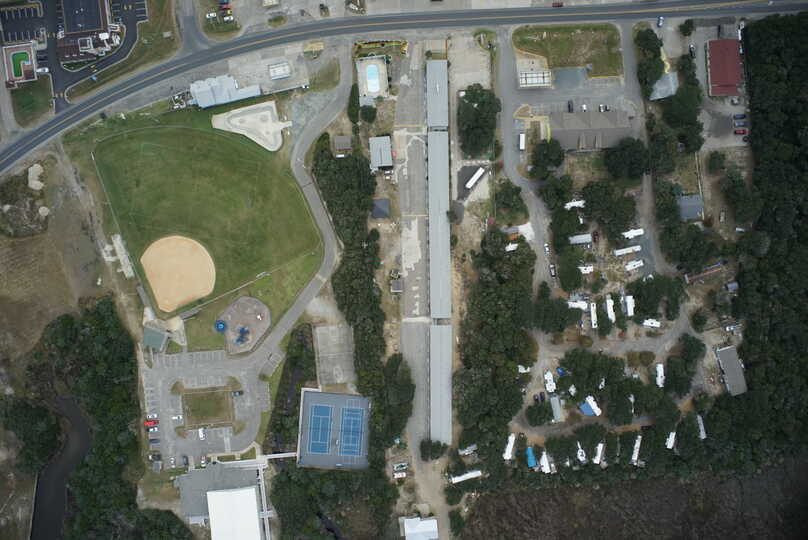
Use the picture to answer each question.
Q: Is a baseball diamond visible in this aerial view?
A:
Yes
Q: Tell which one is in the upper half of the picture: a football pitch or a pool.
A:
pool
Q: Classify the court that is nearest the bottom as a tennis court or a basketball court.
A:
tennis court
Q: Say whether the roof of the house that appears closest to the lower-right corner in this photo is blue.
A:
No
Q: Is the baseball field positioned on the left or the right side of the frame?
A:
left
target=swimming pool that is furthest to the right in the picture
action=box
[357,57,389,96]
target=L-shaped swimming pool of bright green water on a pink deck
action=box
[4,43,36,81]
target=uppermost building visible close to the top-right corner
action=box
[708,39,741,86]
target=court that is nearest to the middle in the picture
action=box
[316,327,357,384]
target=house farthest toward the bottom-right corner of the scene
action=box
[716,344,748,396]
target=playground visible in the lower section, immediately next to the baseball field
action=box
[219,296,271,354]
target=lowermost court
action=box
[298,391,370,470]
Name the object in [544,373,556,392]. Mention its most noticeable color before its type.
white vehicle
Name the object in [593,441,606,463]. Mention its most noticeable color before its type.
white vehicle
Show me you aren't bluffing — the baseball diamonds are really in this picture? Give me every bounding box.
[94,127,320,319]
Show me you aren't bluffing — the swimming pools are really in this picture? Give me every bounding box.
[4,43,36,81]
[357,57,389,96]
